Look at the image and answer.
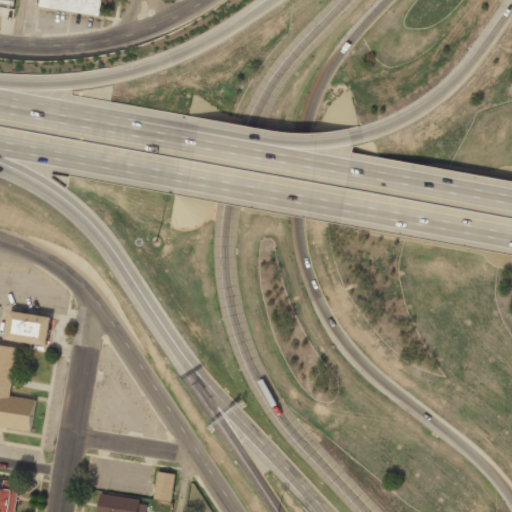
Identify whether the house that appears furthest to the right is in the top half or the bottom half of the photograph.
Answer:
bottom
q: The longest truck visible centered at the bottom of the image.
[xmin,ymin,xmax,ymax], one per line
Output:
[260,382,282,416]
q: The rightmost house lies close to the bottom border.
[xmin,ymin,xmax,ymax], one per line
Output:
[154,471,176,506]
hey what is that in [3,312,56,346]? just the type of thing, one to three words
building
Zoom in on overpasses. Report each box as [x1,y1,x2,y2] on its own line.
[0,86,512,255]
